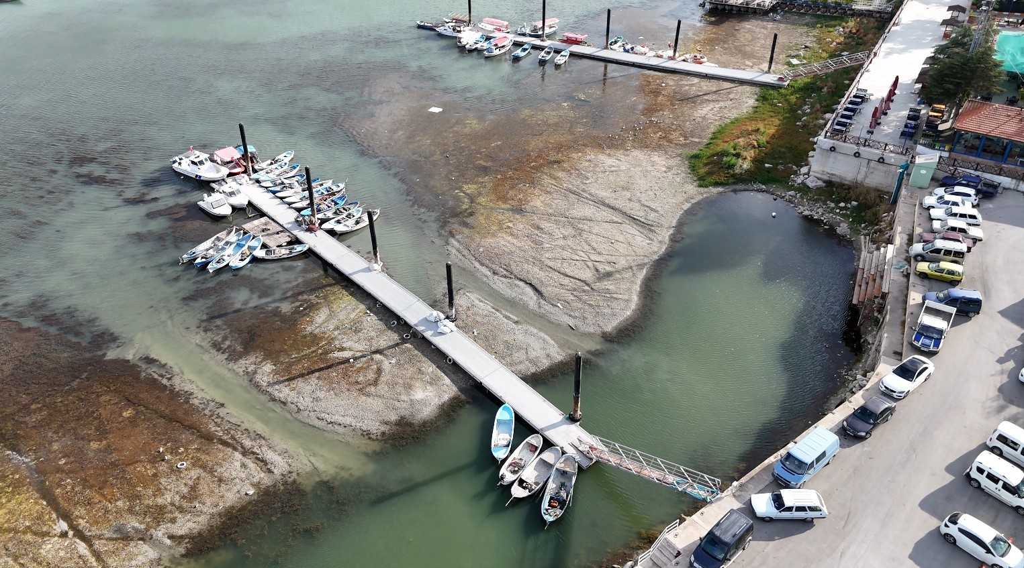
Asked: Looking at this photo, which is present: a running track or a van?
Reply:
van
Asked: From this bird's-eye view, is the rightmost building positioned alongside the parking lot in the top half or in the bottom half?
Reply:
top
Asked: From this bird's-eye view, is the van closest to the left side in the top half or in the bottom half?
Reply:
bottom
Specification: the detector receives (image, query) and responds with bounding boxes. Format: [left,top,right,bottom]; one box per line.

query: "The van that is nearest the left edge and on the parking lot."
[691,512,756,568]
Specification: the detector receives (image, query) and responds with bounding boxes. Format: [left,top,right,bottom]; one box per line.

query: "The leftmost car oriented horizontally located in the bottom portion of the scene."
[750,488,831,524]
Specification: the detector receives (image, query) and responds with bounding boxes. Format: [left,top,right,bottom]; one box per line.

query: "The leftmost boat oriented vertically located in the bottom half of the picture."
[487,402,519,470]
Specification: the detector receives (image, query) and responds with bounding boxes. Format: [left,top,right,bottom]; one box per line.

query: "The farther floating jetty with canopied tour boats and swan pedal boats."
[466,28,787,85]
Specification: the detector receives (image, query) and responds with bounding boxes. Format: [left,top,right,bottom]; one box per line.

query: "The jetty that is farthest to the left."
[222,171,611,470]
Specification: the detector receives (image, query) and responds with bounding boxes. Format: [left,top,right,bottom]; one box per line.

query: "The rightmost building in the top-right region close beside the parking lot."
[952,103,1024,166]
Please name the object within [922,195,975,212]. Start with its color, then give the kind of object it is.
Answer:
white car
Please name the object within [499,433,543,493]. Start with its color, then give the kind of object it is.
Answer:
white boat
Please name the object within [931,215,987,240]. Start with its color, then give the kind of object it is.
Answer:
white car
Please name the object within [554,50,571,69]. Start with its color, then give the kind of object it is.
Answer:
white boat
